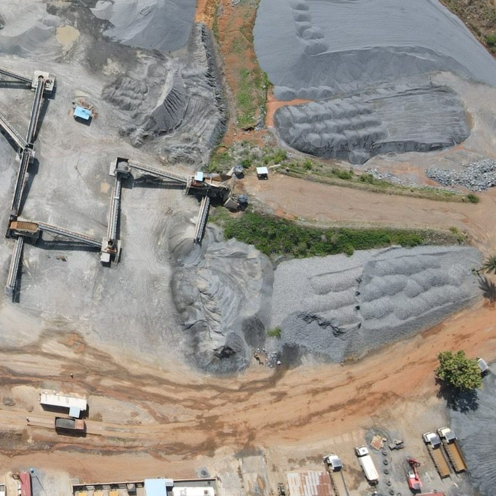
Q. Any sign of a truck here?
Yes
